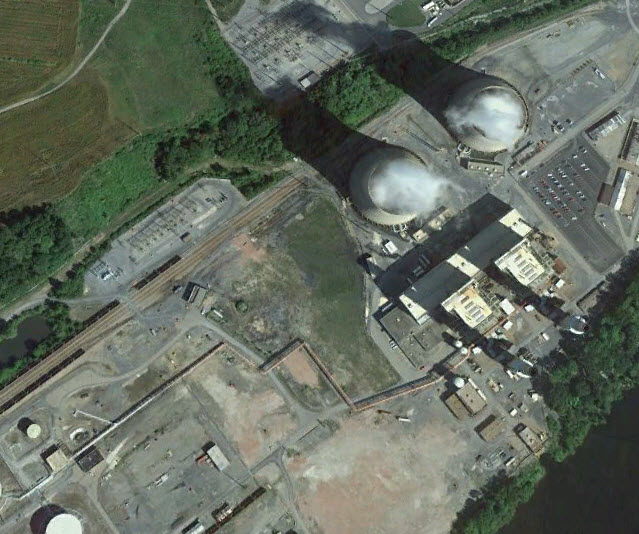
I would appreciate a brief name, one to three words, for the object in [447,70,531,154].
cooling tower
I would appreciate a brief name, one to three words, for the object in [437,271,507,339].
building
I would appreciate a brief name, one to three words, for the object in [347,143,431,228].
cooling tower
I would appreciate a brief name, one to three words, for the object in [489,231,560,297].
building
